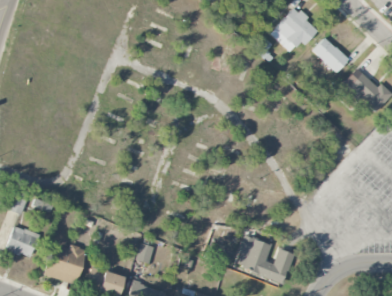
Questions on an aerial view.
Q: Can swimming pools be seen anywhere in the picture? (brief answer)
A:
No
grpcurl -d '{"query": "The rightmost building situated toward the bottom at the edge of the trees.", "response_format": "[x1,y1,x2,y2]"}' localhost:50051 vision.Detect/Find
[242,237,294,285]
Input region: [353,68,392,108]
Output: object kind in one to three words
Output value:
house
